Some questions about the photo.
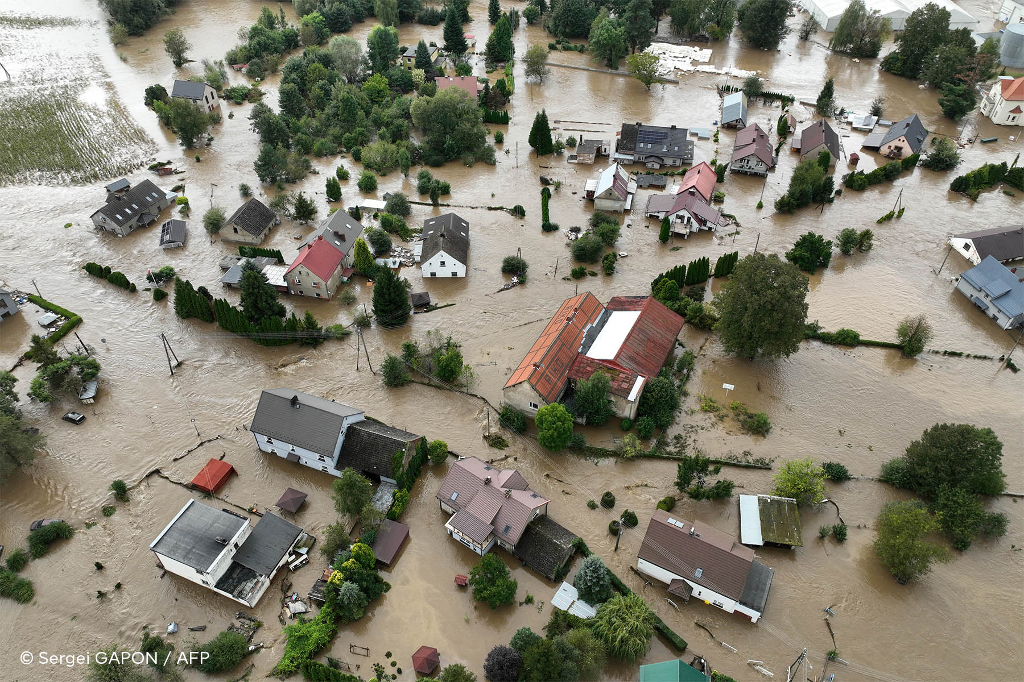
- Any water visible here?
Yes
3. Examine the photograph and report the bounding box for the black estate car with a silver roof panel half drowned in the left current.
[61,412,88,428]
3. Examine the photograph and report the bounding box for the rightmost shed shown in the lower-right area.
[734,494,803,551]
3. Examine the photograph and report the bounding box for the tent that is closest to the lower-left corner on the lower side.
[192,459,234,496]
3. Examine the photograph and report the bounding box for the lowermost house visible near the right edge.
[957,255,1024,328]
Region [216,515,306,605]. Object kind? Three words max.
shed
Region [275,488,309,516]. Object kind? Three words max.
gazebo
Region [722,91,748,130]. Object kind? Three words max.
barn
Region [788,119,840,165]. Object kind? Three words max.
house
